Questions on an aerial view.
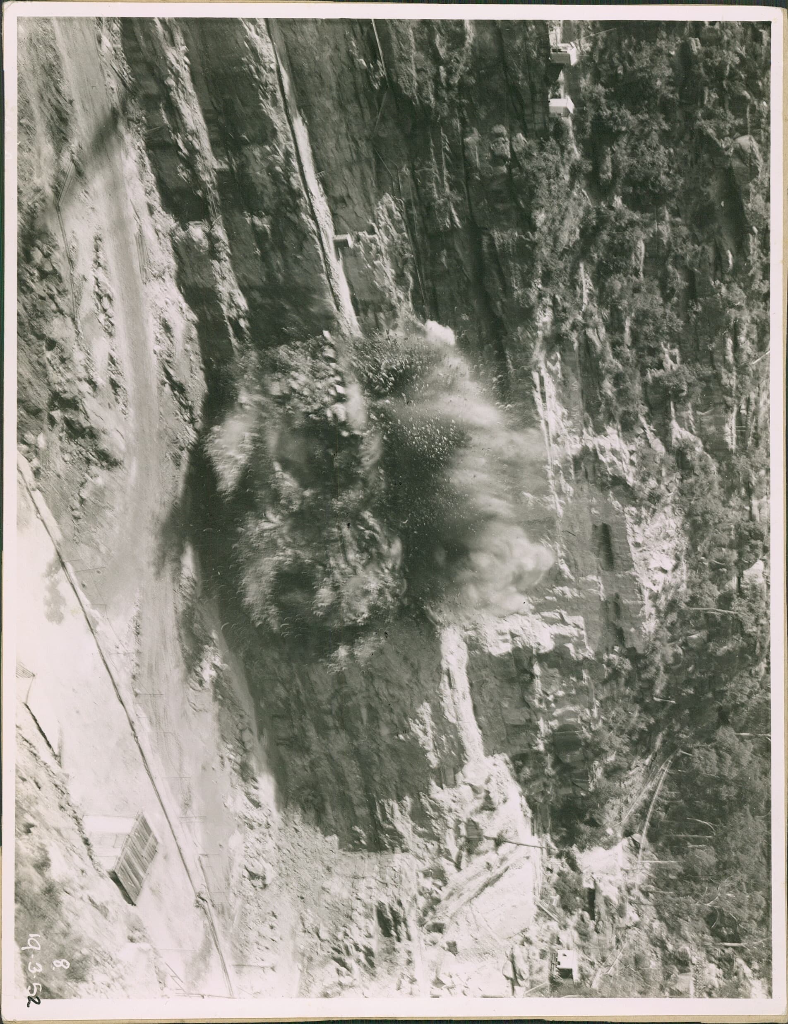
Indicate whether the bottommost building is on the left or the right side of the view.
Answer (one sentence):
The bottommost building is on the right side of the image.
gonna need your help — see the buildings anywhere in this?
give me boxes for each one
[540,37,578,67]
[545,949,584,985]
[538,89,575,120]
[78,812,157,899]
[330,229,353,248]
